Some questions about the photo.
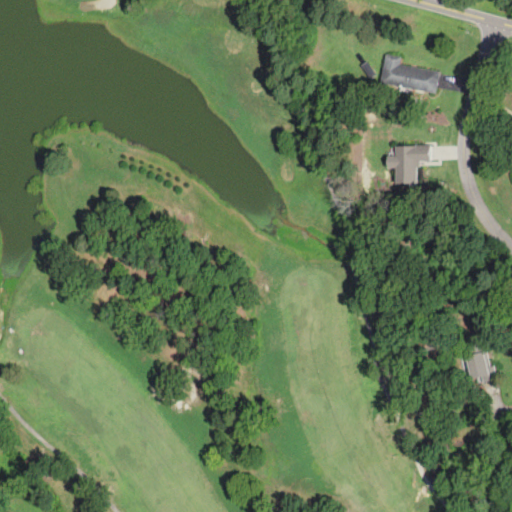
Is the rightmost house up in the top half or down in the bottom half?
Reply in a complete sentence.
The rightmost house sits in the bottom half of the picture.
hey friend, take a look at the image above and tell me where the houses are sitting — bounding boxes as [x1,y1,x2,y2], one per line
[386,145,432,184]
[466,352,496,387]
[380,54,440,95]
